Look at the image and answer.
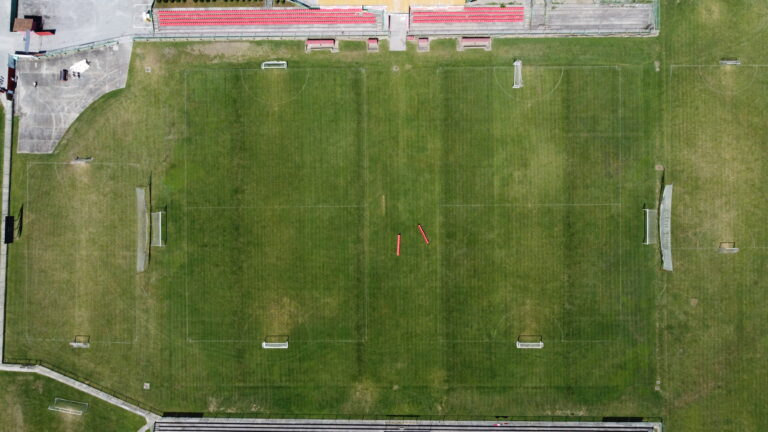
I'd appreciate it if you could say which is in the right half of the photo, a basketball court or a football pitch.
football pitch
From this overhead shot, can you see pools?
No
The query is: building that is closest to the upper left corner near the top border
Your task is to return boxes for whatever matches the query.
[12,18,42,37]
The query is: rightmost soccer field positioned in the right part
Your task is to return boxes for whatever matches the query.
[671,65,768,249]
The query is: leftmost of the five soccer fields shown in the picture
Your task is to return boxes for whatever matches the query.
[27,163,137,344]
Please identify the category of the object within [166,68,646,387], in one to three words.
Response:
soccer field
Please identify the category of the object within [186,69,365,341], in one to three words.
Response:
soccer field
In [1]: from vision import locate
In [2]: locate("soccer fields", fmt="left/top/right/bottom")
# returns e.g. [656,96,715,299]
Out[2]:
[441,66,620,342]
[671,65,768,249]
[166,68,646,387]
[27,163,137,344]
[186,69,365,341]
